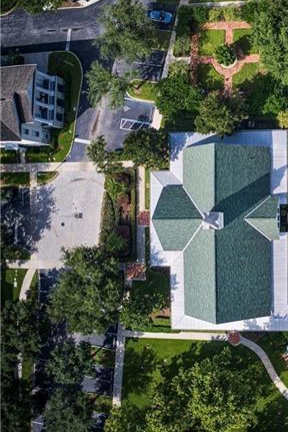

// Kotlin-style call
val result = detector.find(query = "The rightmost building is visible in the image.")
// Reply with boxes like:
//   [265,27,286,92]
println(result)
[150,130,288,330]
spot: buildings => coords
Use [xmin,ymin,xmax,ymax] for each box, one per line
[150,130,288,330]
[0,63,67,152]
